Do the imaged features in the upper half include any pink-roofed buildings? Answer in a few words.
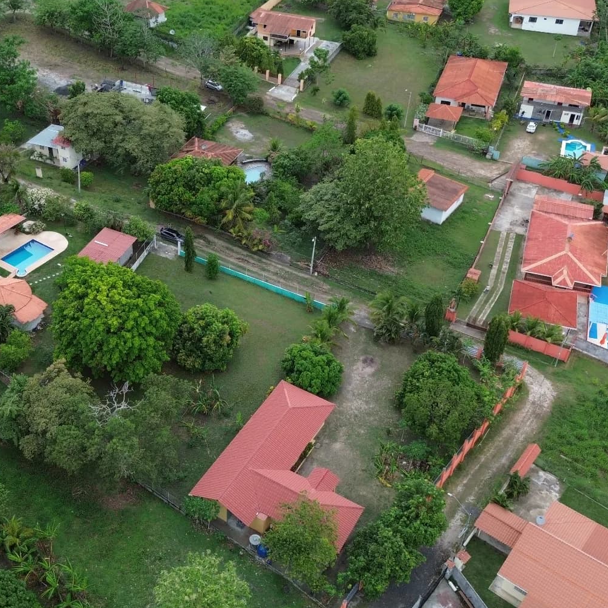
Yes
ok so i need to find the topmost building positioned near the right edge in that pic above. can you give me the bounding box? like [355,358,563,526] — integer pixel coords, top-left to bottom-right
[509,0,598,36]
